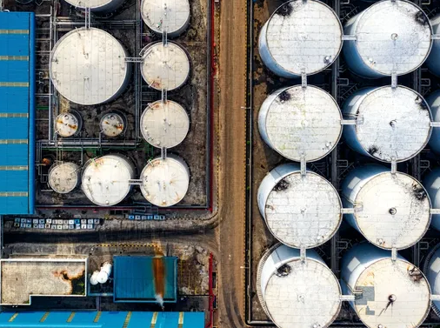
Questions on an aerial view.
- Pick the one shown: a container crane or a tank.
tank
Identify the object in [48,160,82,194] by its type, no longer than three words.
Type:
storage tank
